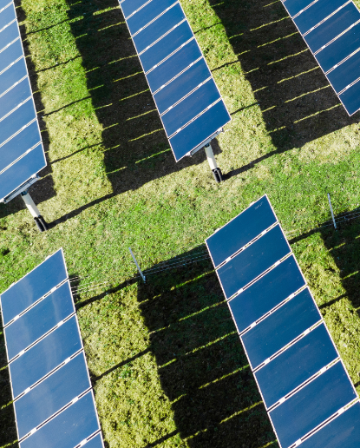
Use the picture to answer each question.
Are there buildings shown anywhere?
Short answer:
No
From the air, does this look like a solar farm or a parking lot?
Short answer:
solar farm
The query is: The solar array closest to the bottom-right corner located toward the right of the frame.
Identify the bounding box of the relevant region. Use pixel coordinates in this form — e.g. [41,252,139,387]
[206,194,360,448]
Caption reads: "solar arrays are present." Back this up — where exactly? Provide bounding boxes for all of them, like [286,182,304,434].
[206,194,360,448]
[0,0,50,235]
[282,0,360,116]
[0,248,104,448]
[119,0,232,188]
